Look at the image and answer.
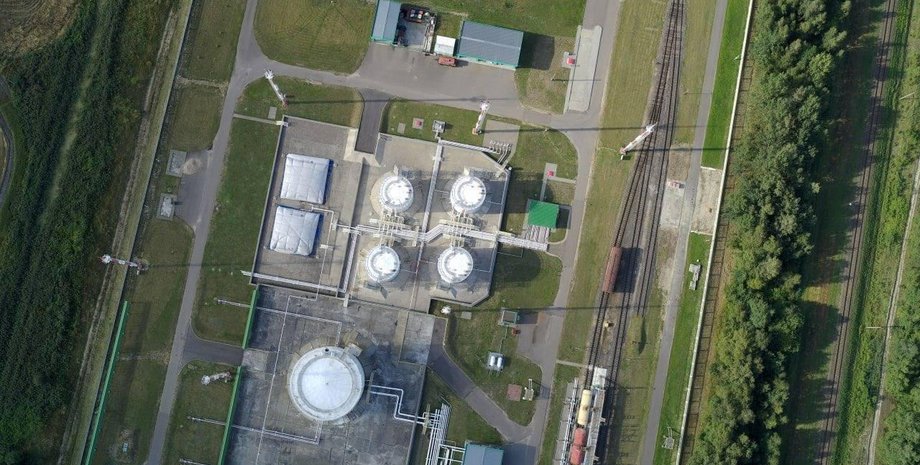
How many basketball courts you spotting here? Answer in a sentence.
I count no basketball courts.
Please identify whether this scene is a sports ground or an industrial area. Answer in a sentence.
It's an industrial area.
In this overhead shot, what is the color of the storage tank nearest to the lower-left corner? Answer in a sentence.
The color of the storage tank nearest to the lower-left corner is white.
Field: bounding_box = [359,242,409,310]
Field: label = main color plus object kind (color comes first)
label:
white storage tank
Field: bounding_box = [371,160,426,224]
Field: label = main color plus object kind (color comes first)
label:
white storage tank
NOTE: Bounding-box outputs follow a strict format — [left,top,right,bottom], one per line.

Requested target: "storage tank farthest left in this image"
[287,321,373,429]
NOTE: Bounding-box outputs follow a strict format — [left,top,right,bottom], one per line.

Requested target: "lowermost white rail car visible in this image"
[578,388,593,426]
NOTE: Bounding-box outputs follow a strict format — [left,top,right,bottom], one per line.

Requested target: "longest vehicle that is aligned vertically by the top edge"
[423,16,437,51]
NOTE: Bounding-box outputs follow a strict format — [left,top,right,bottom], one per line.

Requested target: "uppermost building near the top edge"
[372,0,402,46]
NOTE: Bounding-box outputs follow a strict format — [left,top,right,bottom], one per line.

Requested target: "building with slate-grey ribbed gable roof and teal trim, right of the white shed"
[459,22,524,73]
